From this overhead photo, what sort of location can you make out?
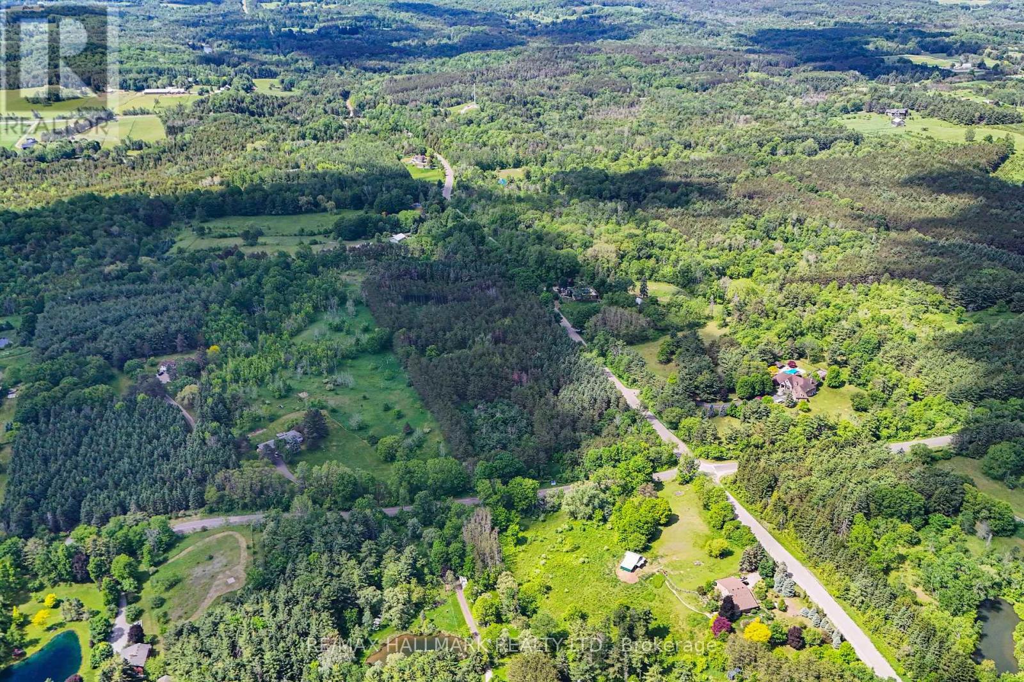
forest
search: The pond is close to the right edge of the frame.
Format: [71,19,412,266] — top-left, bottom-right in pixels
[972,597,1024,676]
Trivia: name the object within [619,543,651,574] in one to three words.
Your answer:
barn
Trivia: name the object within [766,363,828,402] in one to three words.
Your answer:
house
